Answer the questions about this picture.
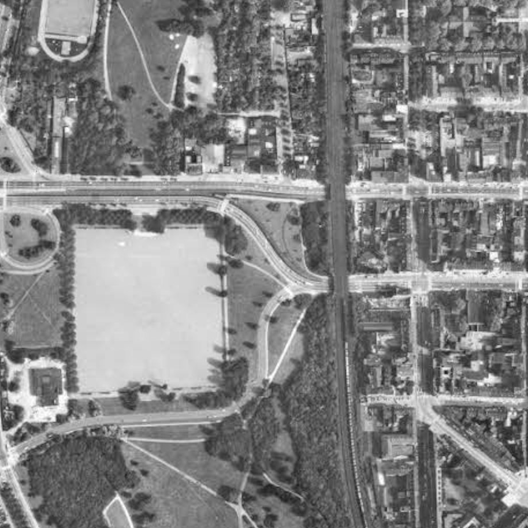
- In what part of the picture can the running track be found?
top left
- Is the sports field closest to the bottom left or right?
left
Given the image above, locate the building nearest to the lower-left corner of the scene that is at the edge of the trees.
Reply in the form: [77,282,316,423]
[28,368,63,406]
